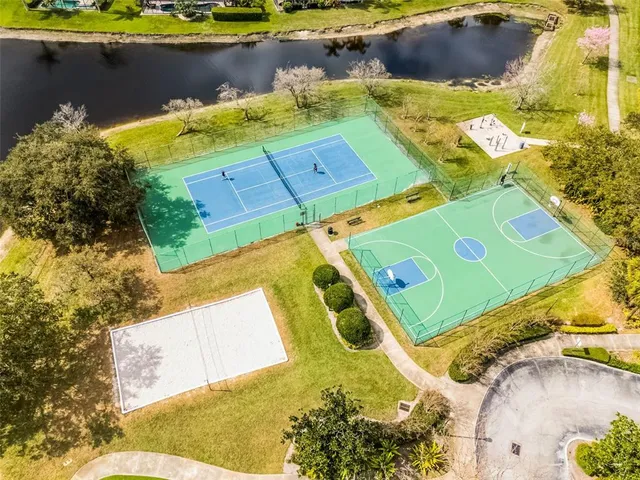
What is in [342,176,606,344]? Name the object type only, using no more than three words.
basketball court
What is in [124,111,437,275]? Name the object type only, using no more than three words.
tennis court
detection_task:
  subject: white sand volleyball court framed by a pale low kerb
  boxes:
[110,287,289,414]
